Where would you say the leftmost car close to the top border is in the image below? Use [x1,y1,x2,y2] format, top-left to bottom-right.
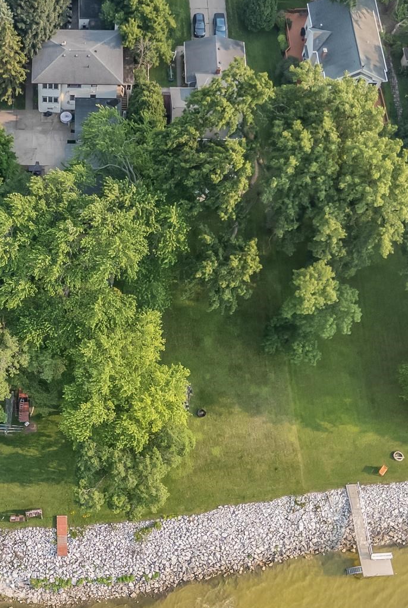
[193,11,207,35]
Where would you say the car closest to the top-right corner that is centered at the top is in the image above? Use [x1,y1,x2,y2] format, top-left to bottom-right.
[213,13,228,36]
